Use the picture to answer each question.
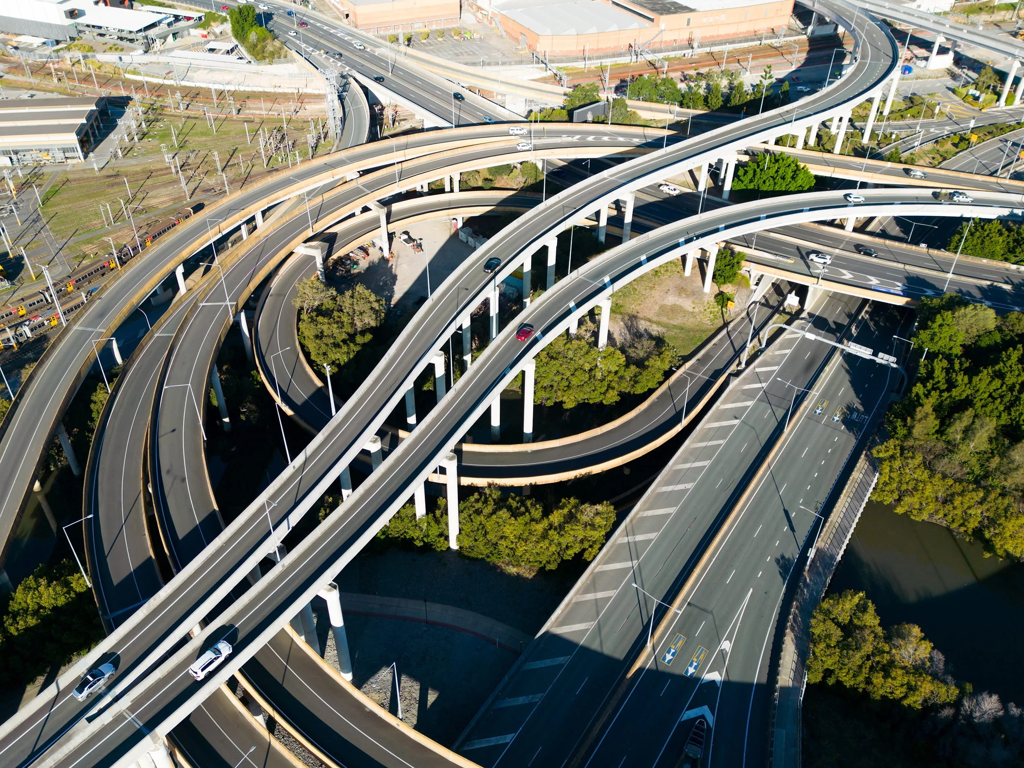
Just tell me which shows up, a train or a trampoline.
train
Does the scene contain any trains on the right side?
No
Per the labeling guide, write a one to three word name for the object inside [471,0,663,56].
building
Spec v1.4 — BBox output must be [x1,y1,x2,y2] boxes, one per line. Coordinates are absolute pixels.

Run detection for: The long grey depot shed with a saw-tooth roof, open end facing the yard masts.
[0,97,111,167]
